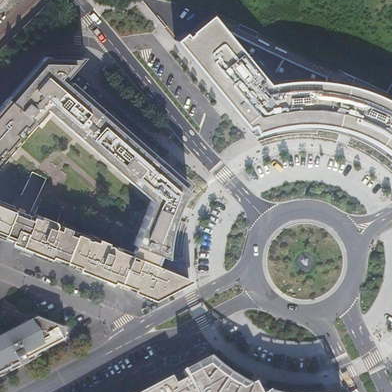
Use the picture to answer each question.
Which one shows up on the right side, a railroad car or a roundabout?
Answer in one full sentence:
It is a roundabout that can be seen on the right side.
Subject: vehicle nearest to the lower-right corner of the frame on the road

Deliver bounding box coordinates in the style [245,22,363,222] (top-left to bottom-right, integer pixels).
[341,370,358,392]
